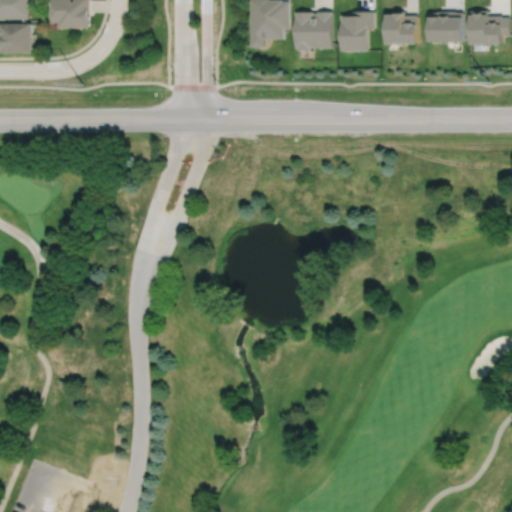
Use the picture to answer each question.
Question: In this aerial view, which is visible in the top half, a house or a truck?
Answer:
house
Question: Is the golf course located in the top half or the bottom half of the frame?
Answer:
bottom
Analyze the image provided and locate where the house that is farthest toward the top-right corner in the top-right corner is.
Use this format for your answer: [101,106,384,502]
[466,14,512,46]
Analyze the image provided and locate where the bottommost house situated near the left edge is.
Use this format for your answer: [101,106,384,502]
[0,22,32,54]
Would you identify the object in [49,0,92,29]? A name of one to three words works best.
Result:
house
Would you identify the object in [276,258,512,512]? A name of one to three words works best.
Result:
golf course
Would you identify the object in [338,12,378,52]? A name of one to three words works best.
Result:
house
